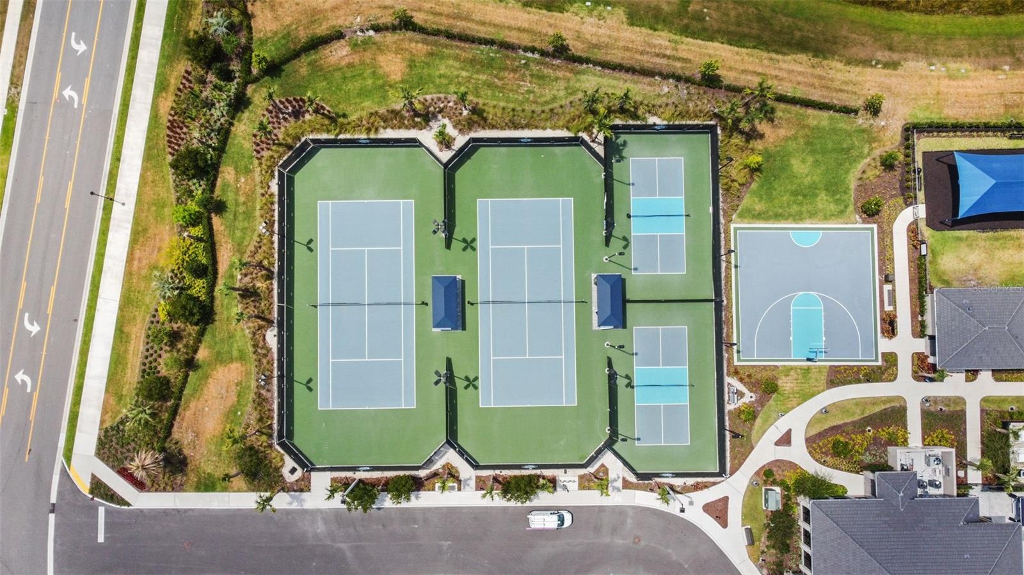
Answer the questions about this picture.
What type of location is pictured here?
sports ground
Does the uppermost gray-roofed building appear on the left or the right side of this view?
right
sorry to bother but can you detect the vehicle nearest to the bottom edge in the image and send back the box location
[528,510,573,532]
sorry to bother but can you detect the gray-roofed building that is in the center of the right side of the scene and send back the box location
[924,287,1024,370]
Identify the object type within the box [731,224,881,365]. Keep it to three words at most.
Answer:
basketball court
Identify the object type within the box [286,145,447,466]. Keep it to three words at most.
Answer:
tennis court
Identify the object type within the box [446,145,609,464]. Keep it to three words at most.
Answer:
tennis court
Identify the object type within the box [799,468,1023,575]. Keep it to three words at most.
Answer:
building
